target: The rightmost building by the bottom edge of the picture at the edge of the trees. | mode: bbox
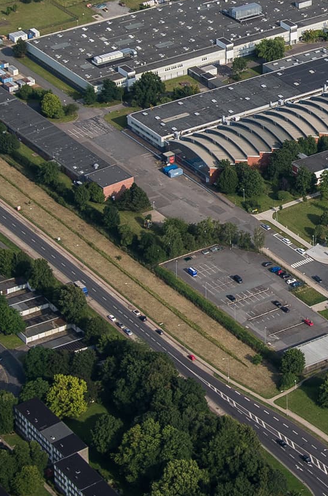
[53,455,123,496]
